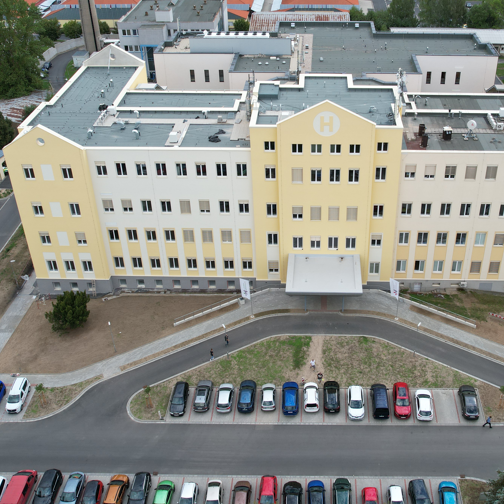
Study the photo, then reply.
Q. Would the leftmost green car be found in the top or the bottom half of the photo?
bottom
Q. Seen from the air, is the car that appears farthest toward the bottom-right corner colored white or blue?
blue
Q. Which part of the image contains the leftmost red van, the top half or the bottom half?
bottom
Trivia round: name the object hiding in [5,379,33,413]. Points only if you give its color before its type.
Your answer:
white car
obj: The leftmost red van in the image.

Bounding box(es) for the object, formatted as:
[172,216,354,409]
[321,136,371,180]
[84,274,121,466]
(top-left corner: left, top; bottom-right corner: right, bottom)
[1,471,37,504]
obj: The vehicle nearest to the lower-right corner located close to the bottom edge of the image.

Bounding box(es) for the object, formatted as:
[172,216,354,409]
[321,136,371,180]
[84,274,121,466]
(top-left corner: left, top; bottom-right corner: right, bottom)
[440,483,463,504]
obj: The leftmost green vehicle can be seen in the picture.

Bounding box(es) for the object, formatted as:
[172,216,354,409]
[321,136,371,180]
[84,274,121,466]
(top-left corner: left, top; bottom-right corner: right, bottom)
[152,481,175,504]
